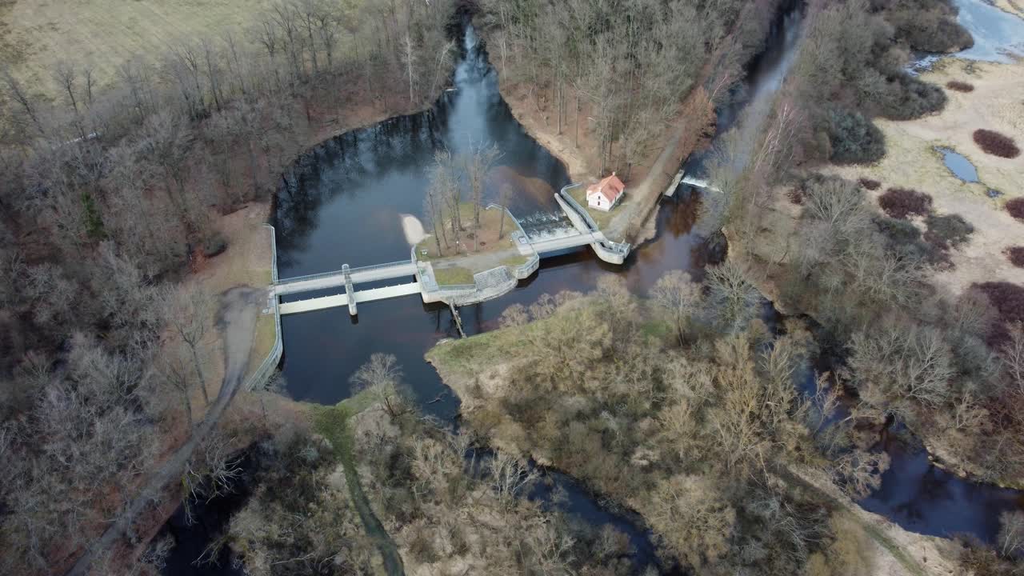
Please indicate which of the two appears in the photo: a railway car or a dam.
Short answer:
dam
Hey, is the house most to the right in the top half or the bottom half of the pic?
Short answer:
top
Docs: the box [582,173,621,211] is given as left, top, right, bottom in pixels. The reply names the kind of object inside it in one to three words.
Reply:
house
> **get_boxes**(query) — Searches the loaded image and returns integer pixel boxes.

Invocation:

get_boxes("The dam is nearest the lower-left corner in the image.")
[278,268,420,319]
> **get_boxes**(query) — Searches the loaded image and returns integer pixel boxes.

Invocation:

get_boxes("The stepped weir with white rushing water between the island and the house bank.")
[516,193,591,252]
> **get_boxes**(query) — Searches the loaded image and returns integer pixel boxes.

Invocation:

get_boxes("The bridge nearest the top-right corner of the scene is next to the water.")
[529,229,598,254]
